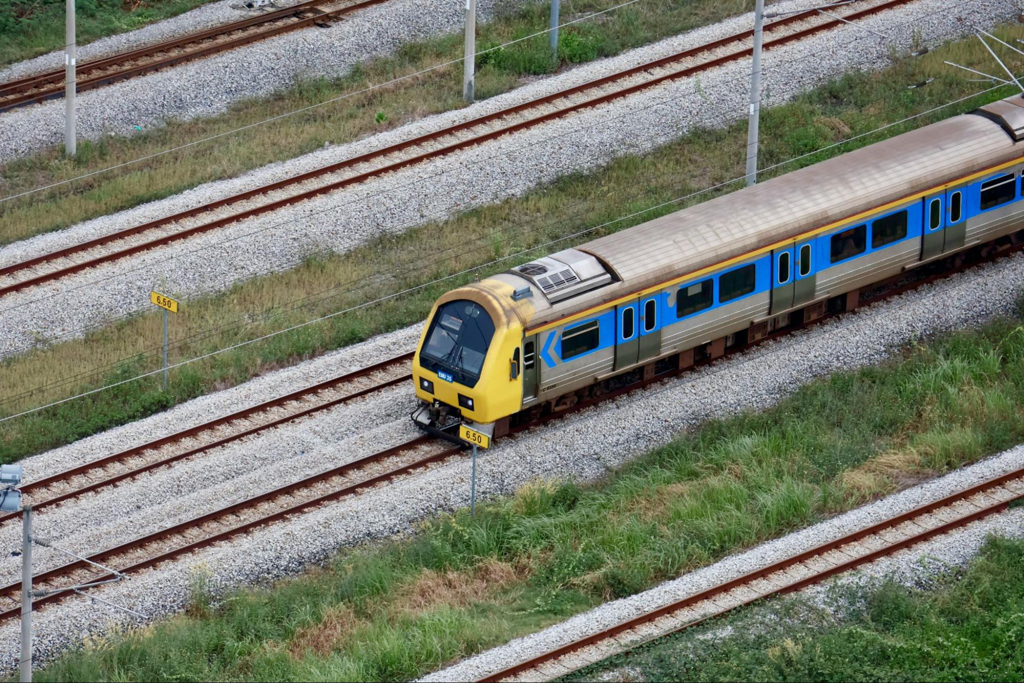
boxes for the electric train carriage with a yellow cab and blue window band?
[409,94,1024,447]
